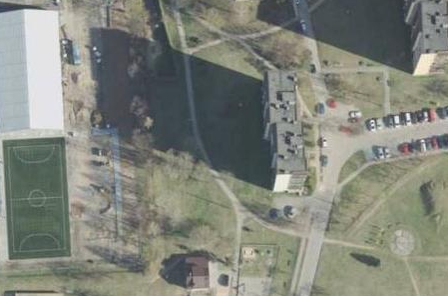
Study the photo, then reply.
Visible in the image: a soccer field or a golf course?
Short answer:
soccer field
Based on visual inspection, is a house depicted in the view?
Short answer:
Yes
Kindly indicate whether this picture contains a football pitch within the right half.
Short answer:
No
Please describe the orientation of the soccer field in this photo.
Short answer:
from top to bottom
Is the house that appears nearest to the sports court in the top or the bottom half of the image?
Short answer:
bottom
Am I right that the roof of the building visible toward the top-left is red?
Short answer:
No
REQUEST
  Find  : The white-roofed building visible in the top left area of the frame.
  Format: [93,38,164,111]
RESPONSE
[0,8,64,135]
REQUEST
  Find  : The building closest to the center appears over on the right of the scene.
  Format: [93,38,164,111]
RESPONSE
[263,71,306,194]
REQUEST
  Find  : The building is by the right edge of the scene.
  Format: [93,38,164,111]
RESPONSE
[405,0,448,77]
